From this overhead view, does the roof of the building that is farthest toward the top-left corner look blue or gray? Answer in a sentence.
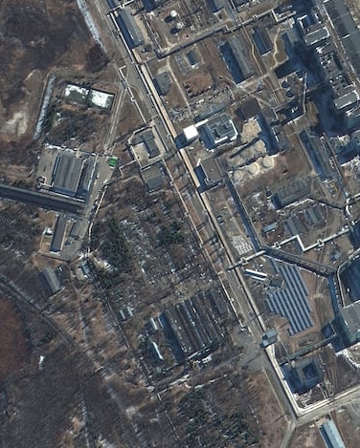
The color of the roof of the building that is farthest toward the top-left corner is gray.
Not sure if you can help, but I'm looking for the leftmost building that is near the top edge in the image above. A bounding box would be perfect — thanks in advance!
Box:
[120,7,144,48]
